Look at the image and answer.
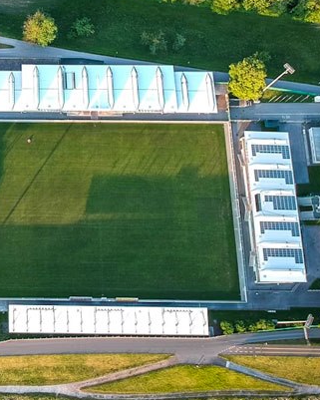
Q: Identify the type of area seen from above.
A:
sports ground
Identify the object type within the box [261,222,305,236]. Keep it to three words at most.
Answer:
solar array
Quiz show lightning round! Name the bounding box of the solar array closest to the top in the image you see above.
[253,146,296,159]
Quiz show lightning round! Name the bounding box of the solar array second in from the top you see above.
[255,170,298,184]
